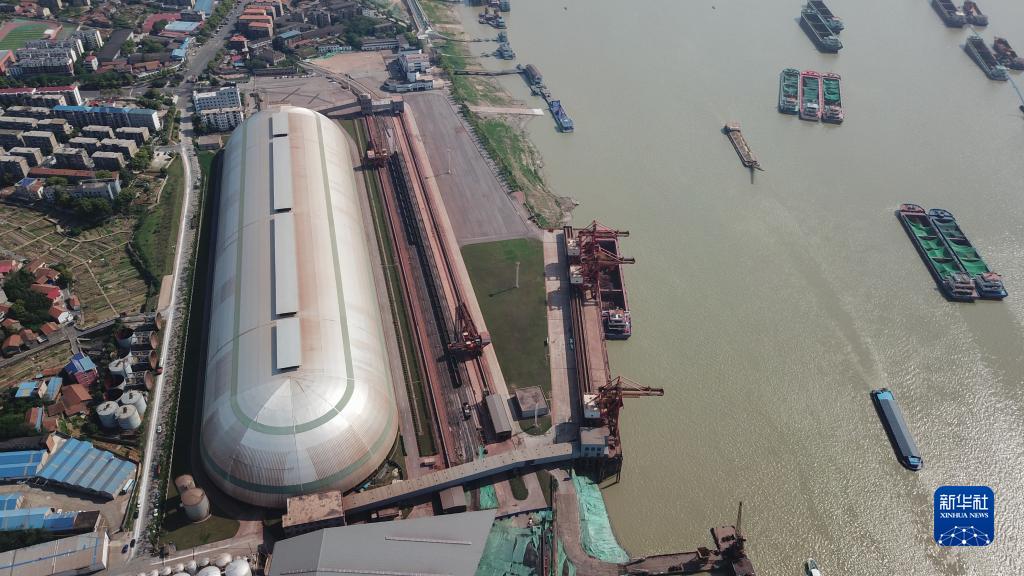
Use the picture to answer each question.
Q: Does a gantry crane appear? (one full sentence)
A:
Yes, a gantry crane is visible in the scene.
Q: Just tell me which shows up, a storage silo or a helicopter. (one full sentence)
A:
It is a storage silo that can be seen here.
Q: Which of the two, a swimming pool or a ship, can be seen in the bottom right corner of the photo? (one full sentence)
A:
The feature located in the bottom right corner of the photo is a ship.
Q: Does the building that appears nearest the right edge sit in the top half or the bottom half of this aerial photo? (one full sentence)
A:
You can find the building that appears nearest the right edge in the bottom half.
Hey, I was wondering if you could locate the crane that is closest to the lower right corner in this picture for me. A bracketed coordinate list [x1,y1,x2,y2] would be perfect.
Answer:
[700,494,768,576]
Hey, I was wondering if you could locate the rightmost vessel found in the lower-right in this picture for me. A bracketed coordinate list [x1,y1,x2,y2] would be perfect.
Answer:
[870,388,921,474]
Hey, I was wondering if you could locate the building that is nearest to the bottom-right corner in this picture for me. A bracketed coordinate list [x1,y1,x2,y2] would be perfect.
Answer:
[582,425,608,459]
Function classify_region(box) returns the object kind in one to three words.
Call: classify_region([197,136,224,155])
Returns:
shed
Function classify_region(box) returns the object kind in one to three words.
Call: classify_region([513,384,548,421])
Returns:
building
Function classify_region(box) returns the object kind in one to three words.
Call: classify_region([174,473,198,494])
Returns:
silo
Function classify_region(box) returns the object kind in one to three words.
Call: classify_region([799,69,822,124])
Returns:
ship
